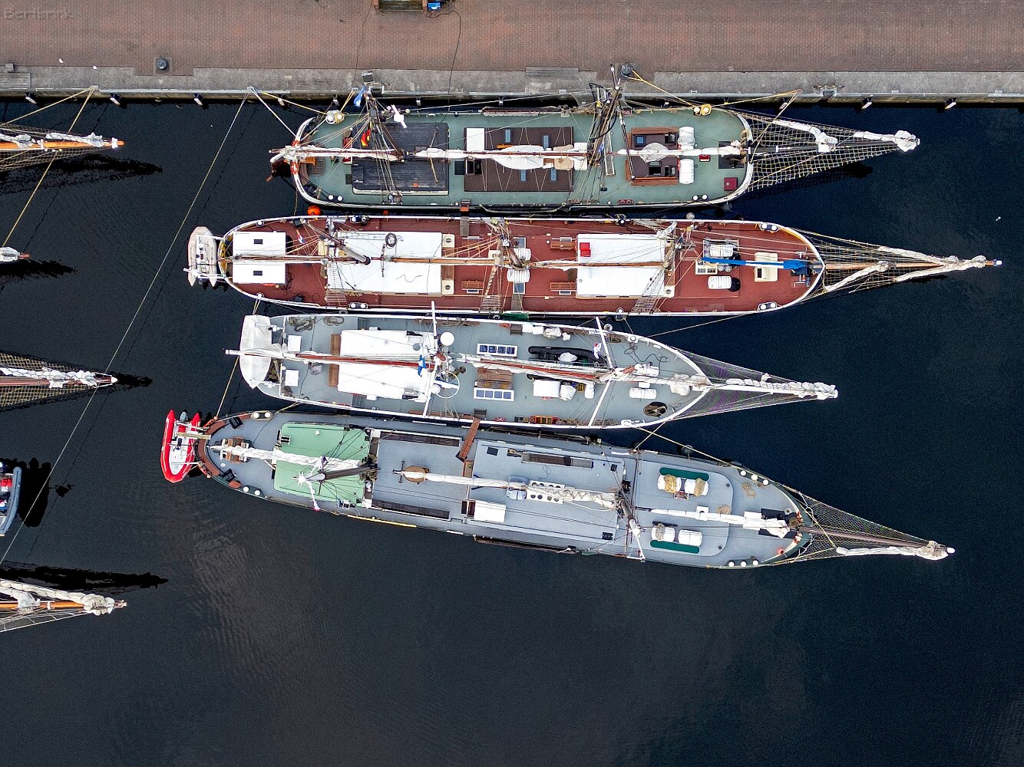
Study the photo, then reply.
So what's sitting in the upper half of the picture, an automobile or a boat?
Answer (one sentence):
You can see a boat in the upper half of the picture.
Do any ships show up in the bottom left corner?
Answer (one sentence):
Yes, a ship shows up in the bottom left corner.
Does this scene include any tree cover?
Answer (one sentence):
No, there's no tree cover in this view.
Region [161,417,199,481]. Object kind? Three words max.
boat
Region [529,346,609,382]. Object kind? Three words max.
boat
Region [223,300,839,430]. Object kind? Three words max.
ship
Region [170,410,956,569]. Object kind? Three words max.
ship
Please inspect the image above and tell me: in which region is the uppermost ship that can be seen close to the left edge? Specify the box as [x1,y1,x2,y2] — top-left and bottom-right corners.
[0,125,127,170]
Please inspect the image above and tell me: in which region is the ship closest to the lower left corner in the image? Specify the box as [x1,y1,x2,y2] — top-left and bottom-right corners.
[0,580,128,633]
